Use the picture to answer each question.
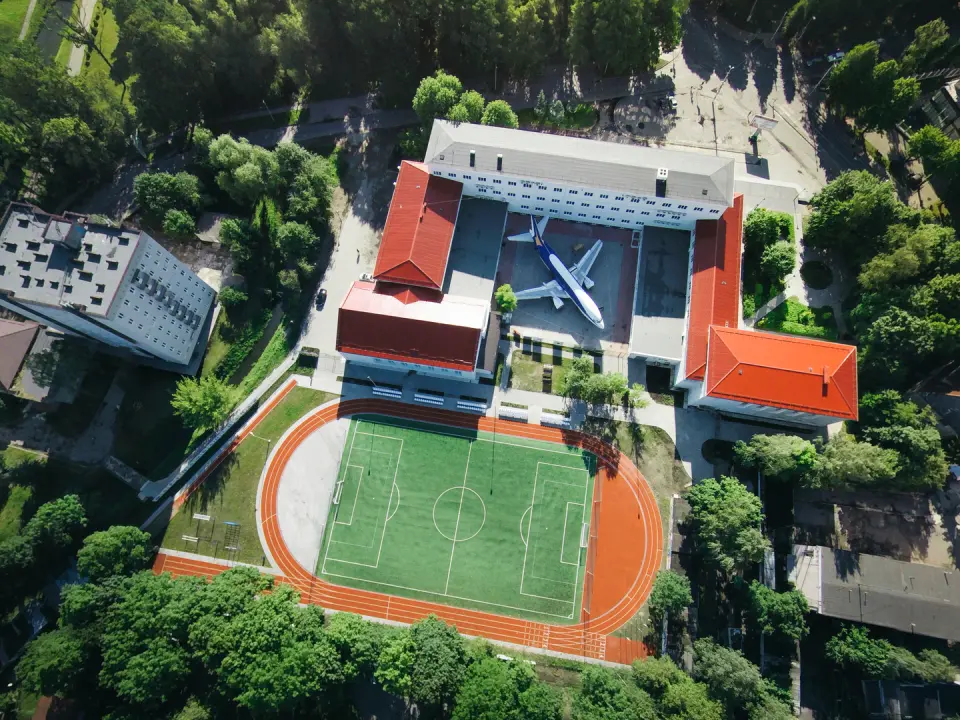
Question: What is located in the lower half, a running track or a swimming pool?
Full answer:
Visible in the lower half is a running track.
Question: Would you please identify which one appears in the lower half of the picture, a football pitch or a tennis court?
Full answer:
What appears in the lower half of the picture is a football pitch.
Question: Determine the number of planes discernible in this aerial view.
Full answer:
The count comes to 1 plane.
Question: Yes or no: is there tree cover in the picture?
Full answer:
Yes, tree cover shows up in the scene.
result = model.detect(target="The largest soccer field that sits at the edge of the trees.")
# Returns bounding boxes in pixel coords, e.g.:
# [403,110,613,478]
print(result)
[316,415,597,622]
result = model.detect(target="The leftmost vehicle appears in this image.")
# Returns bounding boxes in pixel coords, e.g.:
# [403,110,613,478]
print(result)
[314,288,327,307]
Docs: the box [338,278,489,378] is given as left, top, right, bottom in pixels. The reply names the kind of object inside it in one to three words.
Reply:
building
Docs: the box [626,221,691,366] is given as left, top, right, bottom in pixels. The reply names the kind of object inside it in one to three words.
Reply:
building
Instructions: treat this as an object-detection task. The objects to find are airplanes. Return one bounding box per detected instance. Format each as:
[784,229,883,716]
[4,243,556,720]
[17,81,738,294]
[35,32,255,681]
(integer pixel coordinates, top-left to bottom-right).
[503,215,603,327]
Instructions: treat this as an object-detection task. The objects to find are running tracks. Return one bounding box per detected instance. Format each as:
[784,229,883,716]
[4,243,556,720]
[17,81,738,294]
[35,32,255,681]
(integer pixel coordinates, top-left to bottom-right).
[152,392,663,666]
